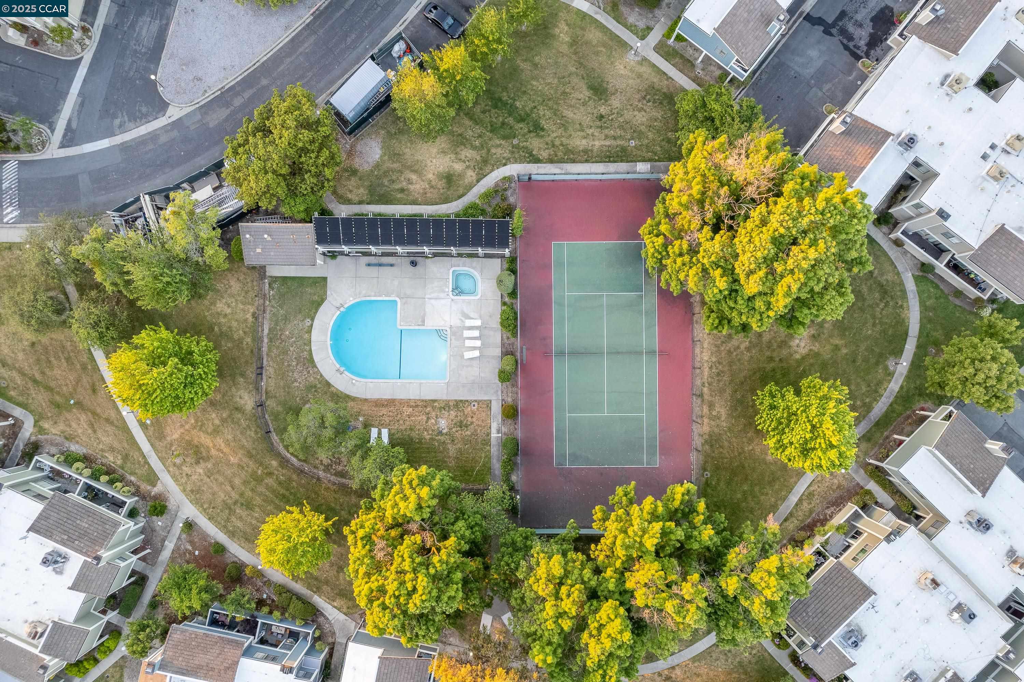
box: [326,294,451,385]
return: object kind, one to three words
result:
swimming pool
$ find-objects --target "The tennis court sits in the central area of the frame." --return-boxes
[518,179,693,529]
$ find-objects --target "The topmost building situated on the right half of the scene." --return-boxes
[671,0,807,93]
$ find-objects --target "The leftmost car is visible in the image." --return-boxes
[421,1,466,40]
